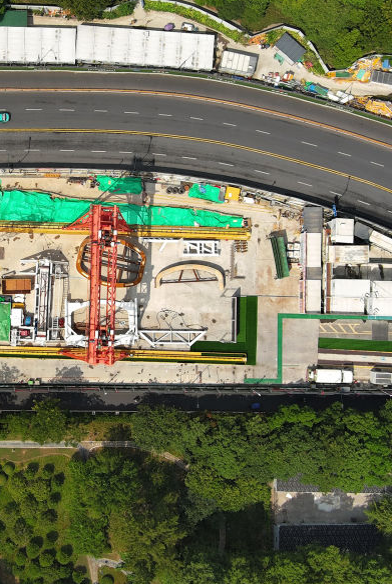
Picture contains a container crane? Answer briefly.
Yes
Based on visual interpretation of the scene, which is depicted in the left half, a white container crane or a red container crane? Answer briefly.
red container crane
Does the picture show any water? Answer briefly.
No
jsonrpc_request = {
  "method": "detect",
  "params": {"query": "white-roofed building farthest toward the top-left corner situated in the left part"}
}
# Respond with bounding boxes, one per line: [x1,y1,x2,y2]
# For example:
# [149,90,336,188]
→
[0,26,76,66]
